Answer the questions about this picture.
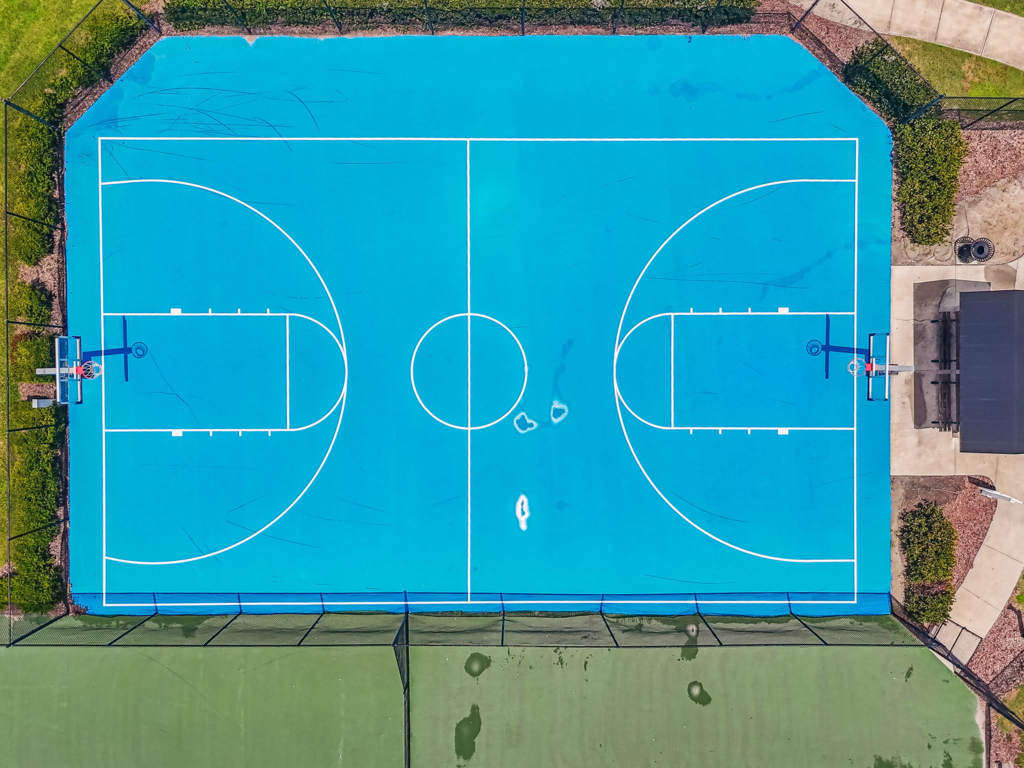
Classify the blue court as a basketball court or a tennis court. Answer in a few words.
basketball court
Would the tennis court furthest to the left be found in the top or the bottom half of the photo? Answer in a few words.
bottom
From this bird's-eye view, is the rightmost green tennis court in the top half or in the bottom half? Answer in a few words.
bottom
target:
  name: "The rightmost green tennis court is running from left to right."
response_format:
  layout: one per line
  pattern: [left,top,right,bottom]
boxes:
[409,614,984,768]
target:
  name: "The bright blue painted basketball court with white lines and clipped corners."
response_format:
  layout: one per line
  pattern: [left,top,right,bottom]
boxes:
[65,34,893,615]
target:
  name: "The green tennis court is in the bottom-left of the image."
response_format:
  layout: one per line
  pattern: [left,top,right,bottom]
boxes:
[0,613,410,768]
